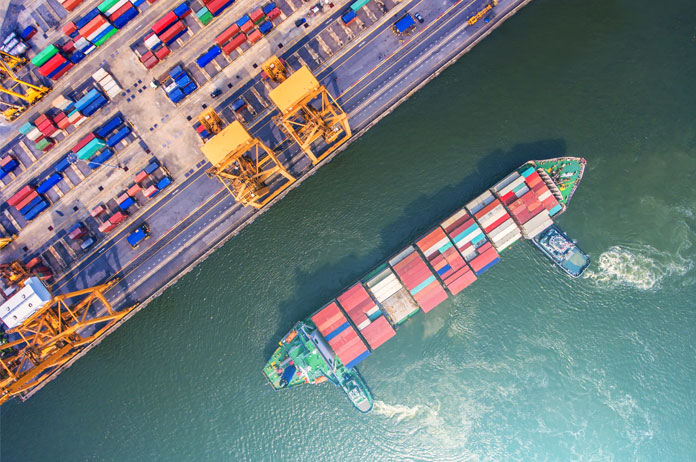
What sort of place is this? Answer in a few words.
port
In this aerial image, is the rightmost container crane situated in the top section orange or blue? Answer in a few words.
orange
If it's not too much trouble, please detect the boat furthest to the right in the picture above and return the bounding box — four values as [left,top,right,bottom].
[531,226,591,282]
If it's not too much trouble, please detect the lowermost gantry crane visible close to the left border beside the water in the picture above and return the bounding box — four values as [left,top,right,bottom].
[0,272,139,399]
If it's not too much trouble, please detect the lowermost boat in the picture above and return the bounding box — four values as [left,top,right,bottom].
[336,362,376,416]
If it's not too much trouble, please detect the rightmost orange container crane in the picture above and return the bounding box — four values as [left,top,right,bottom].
[268,56,364,174]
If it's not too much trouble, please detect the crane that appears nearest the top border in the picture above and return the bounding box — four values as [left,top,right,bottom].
[0,51,47,105]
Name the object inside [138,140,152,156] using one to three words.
vehicle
